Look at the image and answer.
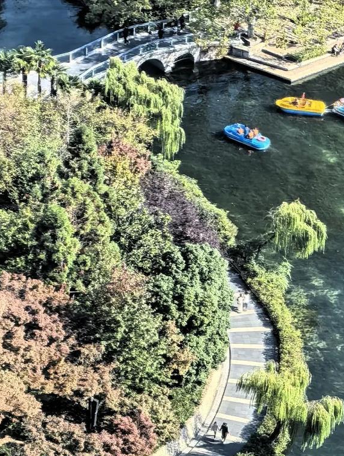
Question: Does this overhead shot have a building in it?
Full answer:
No, I can't see a single building in this photo.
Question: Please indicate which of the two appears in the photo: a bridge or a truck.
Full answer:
Looking from above, you can make out a bridge.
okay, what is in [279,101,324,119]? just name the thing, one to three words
boat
